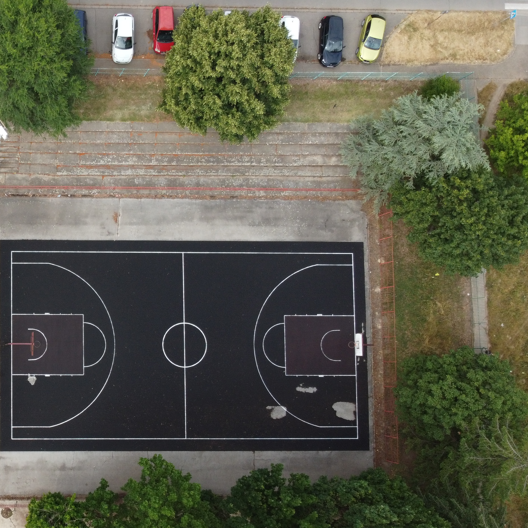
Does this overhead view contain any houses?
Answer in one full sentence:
No, no house can be seen from above.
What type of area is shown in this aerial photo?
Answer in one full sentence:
The area seen from above is a sports ground.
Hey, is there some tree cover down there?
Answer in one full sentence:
Yes, tree cover shows up in the scene.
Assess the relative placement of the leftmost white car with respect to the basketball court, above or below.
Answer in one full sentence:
Looking at the scene, the leftmost white car is located above the basketball court.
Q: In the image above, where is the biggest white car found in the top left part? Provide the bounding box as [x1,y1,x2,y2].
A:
[110,10,137,63]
